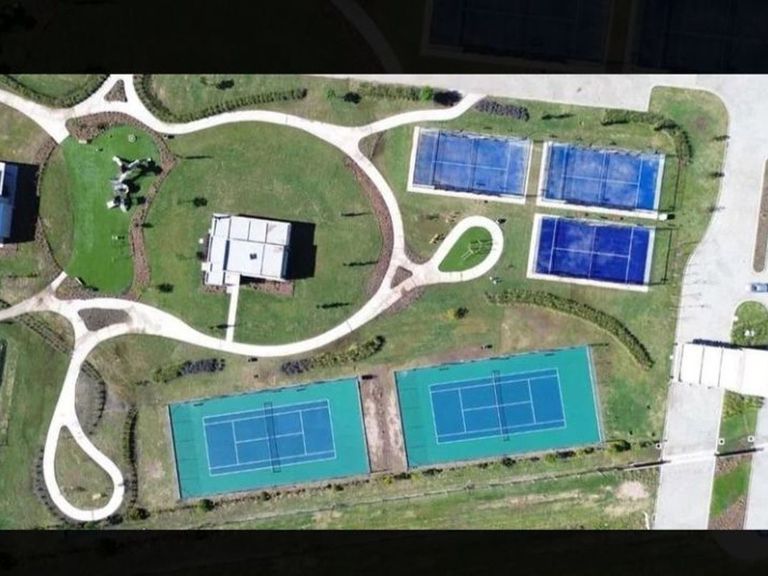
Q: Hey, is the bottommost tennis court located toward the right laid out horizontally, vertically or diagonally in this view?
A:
horizontally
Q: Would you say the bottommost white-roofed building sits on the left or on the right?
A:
left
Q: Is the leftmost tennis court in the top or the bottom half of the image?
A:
bottom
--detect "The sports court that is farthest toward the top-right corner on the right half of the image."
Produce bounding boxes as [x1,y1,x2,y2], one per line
[537,141,665,218]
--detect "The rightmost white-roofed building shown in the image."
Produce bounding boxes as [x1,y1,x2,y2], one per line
[205,214,292,285]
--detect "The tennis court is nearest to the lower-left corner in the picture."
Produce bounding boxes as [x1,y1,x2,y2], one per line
[166,375,373,502]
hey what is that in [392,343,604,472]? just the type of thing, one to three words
tennis court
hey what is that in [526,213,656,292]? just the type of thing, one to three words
sports court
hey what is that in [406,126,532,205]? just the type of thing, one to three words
sports court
